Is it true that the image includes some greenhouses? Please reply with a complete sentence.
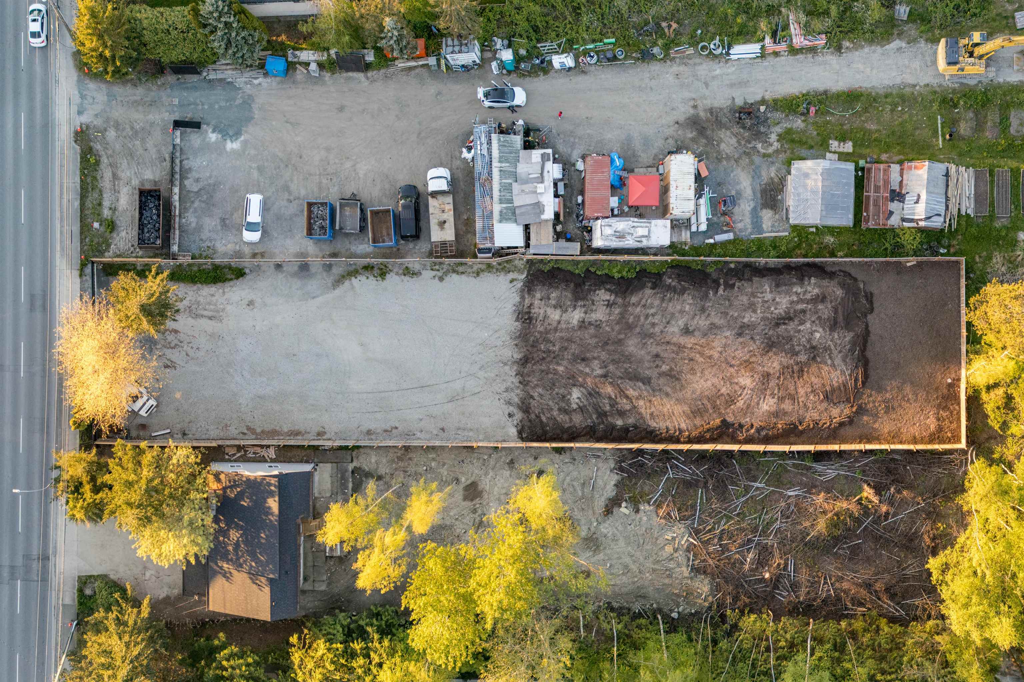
Yes, there's a greenhouse here.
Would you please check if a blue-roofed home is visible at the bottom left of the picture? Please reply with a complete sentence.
No, I see no blue-roofed home at the bottom left of the picture.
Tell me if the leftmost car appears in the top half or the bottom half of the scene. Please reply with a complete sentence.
You can find the leftmost car in the top half.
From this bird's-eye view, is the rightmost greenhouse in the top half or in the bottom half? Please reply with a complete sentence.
Seen from above, the rightmost greenhouse lies in the top half of the view.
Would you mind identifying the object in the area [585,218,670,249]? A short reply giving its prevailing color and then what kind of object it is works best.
white camper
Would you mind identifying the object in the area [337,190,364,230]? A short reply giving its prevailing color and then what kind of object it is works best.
gray trailer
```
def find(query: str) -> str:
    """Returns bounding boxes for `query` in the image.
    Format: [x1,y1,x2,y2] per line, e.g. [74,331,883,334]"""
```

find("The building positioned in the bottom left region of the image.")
[207,466,317,622]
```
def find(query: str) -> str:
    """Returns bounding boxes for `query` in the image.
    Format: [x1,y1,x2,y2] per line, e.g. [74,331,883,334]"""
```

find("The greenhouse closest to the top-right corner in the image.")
[853,161,950,231]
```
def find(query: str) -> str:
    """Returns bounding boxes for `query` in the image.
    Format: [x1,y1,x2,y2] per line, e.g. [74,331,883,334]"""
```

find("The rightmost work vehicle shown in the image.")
[932,32,1024,76]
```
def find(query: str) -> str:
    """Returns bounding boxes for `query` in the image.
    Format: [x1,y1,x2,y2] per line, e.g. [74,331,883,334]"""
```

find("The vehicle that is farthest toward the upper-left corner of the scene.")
[27,4,53,50]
